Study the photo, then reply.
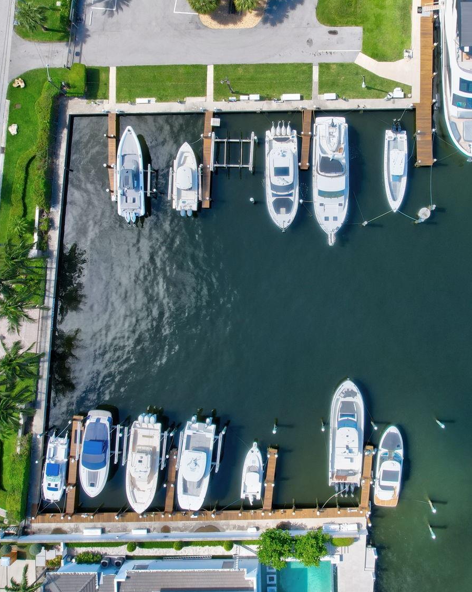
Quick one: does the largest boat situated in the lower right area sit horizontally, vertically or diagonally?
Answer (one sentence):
In this picture, the largest boat situated in the lower right area is oriented vertically.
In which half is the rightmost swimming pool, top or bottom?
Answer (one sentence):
It is in the bottom half that the rightmost swimming pool appears.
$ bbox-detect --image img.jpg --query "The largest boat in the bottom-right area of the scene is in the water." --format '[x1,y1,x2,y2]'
[329,376,364,496]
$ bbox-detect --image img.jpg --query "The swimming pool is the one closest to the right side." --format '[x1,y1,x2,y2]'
[276,560,332,592]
